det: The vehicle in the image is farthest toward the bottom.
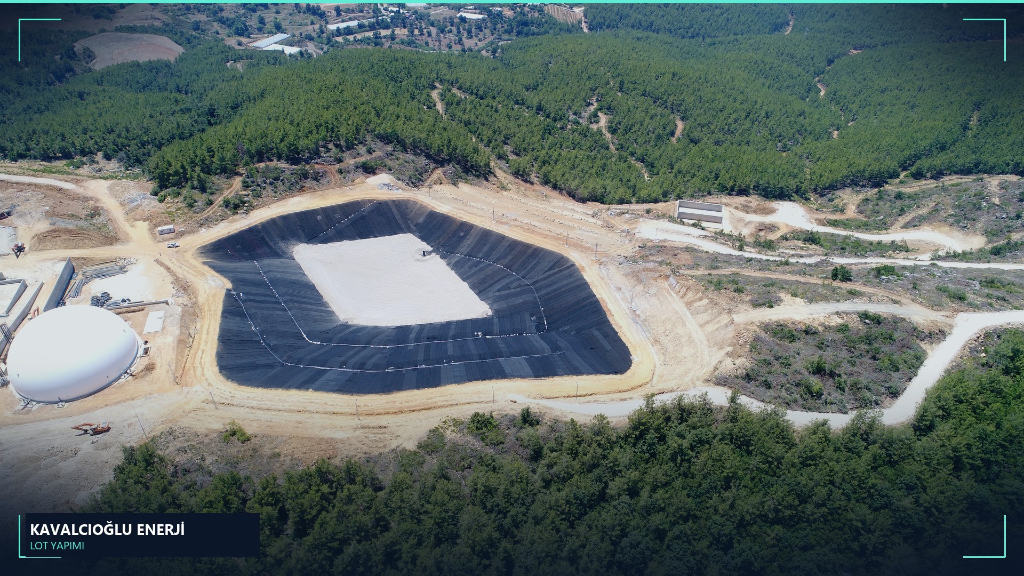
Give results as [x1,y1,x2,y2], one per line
[72,421,113,437]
